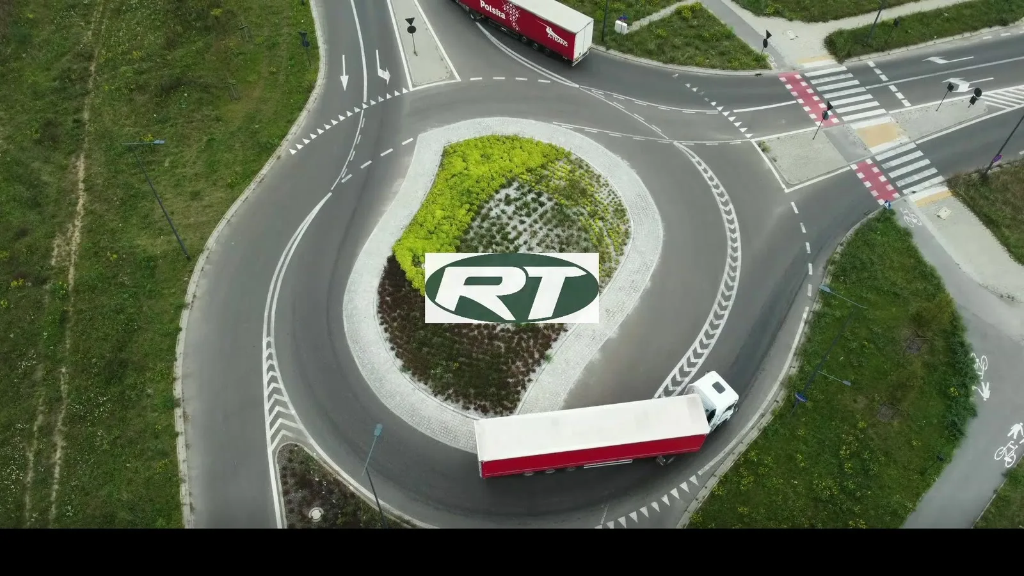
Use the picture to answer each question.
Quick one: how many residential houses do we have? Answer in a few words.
0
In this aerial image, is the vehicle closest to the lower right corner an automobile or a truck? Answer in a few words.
truck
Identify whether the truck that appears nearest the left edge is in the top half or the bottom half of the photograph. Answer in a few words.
top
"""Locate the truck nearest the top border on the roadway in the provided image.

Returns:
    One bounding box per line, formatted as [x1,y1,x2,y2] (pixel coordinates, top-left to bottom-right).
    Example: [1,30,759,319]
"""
[436,0,594,67]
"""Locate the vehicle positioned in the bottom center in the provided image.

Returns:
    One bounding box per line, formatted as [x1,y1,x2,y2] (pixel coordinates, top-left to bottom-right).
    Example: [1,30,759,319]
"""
[475,367,744,483]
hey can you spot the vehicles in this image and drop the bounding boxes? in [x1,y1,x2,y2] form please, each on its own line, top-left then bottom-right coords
[436,0,594,67]
[475,367,744,483]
